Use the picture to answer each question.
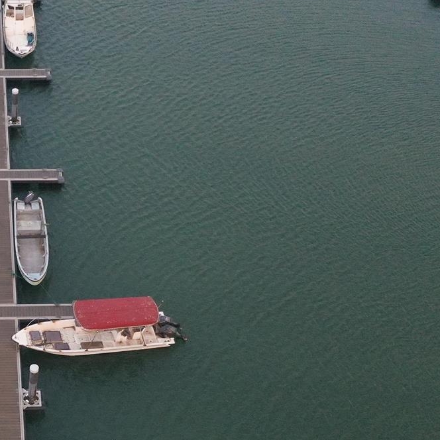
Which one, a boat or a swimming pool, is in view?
boat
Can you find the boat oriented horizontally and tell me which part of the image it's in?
bottom left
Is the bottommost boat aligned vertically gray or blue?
gray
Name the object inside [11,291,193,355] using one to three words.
boat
